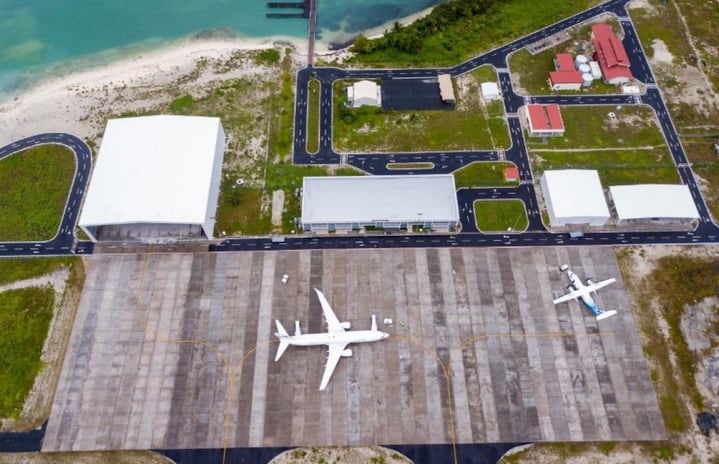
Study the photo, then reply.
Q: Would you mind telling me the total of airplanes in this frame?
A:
two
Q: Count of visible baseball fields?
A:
0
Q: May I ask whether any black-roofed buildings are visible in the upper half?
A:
No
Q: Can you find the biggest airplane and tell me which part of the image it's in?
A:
bottom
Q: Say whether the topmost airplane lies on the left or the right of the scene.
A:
right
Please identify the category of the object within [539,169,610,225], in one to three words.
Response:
building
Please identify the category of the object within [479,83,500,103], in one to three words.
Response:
shed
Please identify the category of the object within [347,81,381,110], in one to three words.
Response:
house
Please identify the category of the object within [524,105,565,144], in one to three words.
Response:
building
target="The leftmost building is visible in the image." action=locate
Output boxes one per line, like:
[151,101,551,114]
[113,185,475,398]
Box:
[79,116,227,241]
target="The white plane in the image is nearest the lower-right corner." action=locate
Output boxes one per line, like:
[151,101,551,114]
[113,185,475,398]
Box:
[551,270,617,324]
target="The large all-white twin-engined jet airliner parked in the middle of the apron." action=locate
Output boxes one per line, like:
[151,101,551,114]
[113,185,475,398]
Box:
[270,288,390,392]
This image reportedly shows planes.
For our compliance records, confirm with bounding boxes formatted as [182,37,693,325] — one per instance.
[270,288,390,392]
[551,270,617,324]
